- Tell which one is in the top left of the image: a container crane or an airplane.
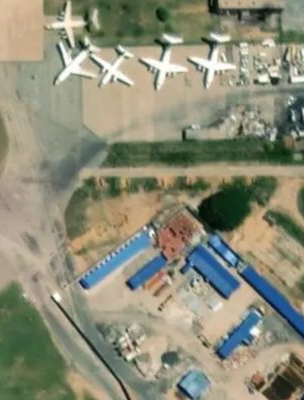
airplane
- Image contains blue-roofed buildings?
Yes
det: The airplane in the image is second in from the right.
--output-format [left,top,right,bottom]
[141,28,190,89]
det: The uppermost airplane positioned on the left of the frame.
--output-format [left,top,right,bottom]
[45,1,94,48]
